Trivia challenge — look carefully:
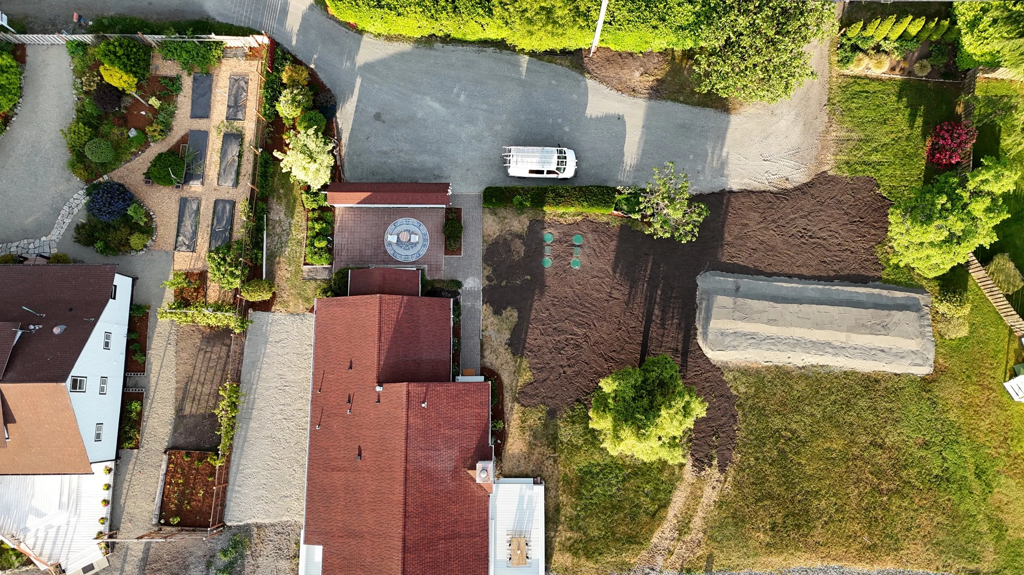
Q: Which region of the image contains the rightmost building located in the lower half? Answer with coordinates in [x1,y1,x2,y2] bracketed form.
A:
[302,269,496,575]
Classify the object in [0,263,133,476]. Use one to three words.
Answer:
house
